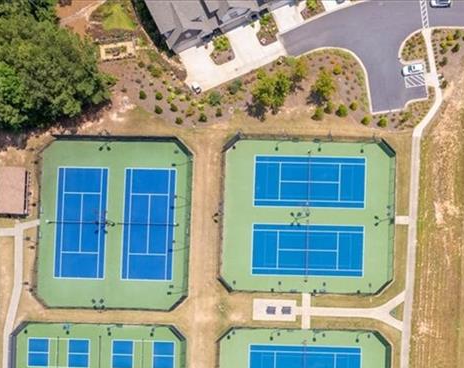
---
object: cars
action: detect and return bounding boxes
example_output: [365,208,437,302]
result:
[402,62,424,76]
[430,0,451,8]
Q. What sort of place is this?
sports ground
